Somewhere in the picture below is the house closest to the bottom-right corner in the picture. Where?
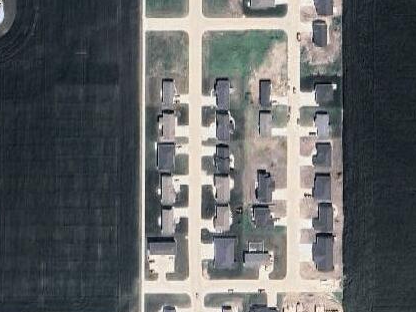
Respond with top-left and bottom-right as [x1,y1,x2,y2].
[312,236,333,272]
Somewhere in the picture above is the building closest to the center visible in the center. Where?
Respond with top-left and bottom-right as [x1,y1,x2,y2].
[216,147,229,174]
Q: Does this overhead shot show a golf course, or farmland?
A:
farmland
